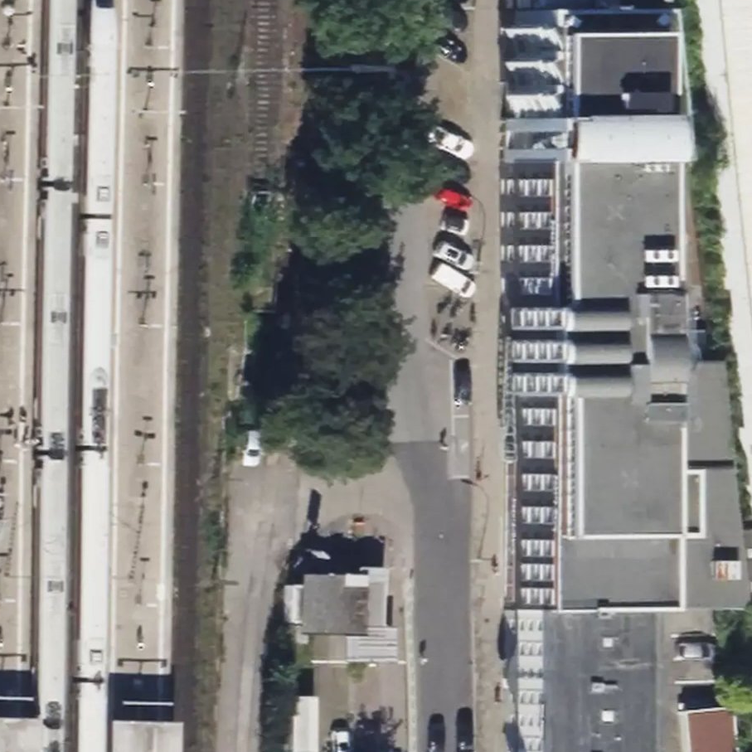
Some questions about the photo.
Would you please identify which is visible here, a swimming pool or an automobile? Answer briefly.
automobile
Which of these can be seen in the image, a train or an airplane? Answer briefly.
train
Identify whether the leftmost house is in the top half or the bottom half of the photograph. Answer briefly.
bottom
